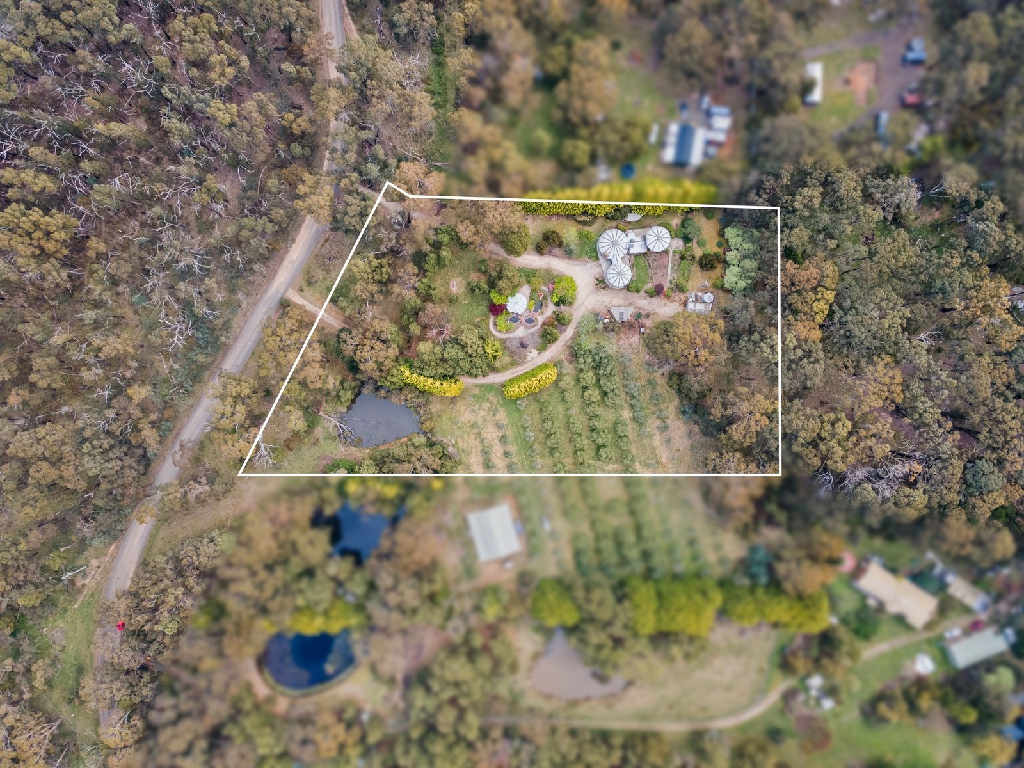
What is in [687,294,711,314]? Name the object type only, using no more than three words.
shed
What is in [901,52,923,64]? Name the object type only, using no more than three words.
vehicle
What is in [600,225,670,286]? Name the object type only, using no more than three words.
house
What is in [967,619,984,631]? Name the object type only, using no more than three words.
vehicle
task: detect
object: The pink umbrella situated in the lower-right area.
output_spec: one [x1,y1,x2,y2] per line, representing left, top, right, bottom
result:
[837,553,856,571]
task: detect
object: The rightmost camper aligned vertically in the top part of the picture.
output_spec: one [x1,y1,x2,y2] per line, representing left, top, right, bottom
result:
[876,110,889,138]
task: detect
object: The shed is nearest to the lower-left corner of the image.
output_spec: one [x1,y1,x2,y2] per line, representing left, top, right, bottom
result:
[467,502,521,561]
